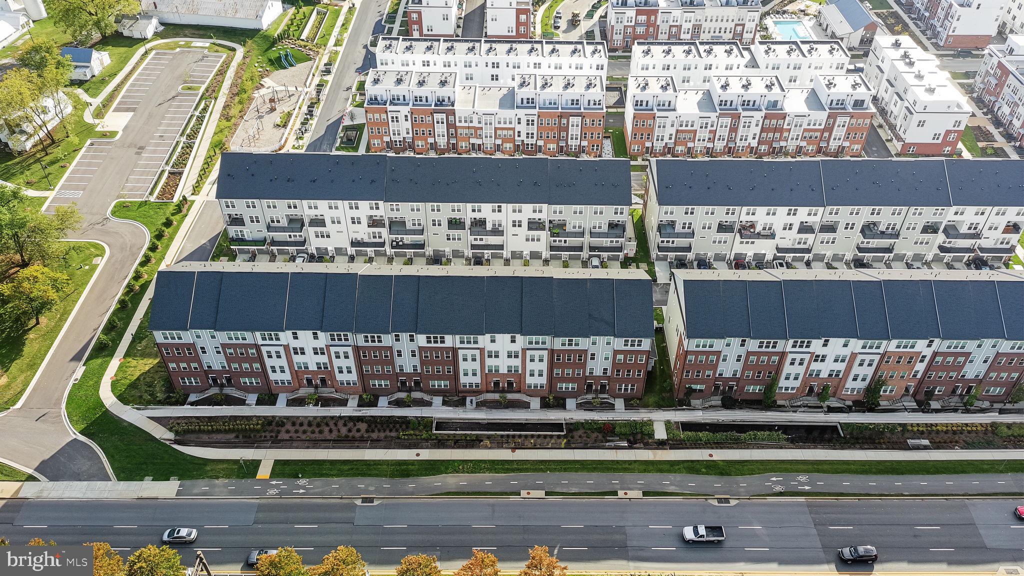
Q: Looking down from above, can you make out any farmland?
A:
No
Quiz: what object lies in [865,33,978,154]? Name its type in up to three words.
building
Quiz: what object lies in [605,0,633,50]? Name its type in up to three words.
house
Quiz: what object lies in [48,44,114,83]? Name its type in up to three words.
house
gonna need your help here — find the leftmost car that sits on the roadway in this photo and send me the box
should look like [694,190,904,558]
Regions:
[160,528,198,545]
